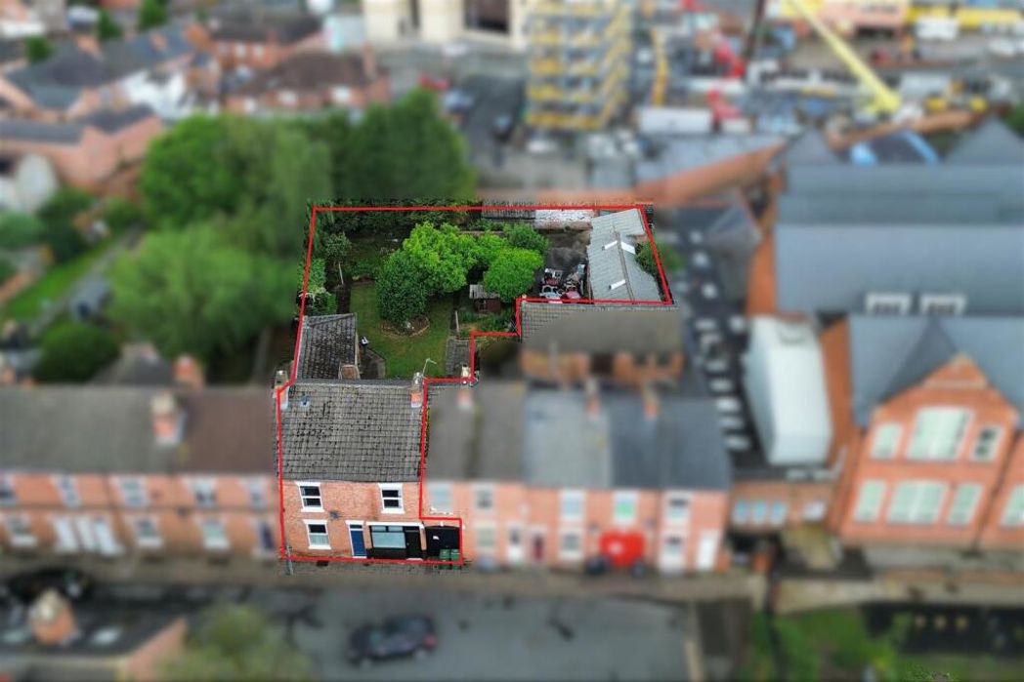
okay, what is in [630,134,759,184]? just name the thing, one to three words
building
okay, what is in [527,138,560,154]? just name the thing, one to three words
car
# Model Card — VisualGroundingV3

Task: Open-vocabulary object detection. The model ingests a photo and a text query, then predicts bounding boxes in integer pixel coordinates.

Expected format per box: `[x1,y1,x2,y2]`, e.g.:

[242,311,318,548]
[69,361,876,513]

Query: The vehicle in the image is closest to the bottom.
[343,617,440,669]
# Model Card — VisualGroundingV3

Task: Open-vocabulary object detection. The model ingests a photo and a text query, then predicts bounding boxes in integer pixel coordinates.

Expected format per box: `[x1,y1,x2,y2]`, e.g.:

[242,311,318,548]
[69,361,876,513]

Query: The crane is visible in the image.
[810,0,919,117]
